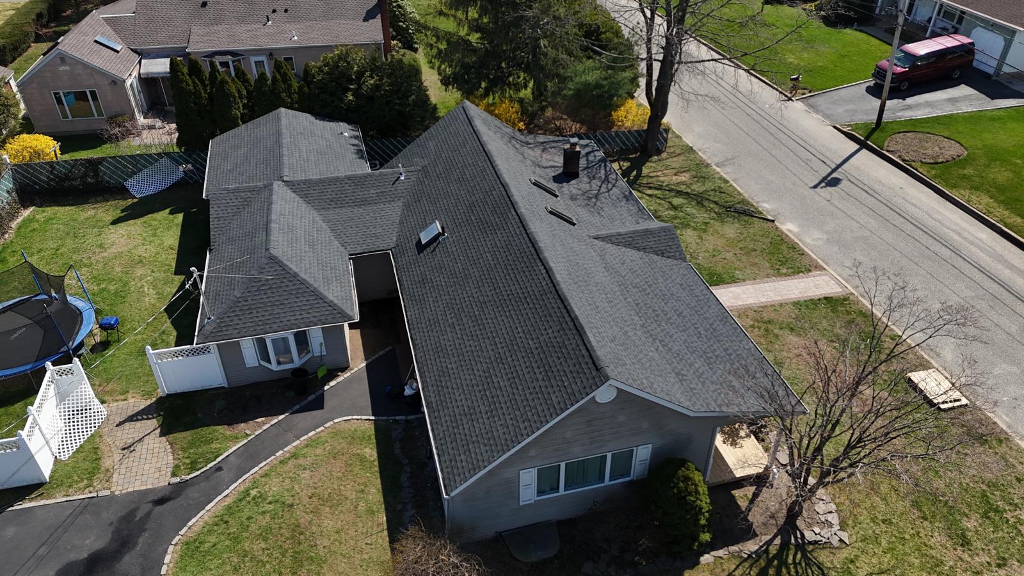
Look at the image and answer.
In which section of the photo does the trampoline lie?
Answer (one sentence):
The trampoline sits in the left section of the image.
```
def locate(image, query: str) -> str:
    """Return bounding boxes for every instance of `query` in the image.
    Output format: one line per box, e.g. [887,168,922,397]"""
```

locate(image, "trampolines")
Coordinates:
[0,240,100,381]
